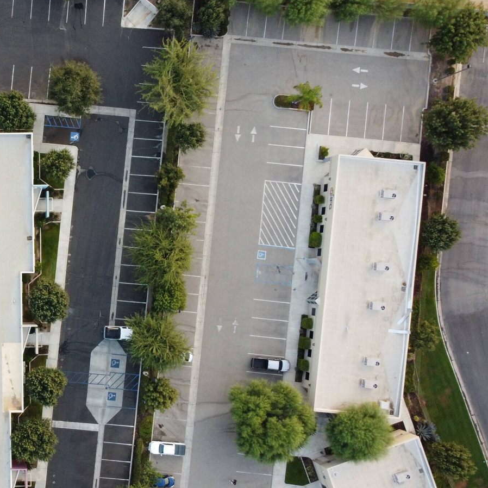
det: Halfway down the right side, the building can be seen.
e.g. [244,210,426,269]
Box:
[302,149,425,418]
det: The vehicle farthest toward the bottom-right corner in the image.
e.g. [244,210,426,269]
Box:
[248,356,290,373]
